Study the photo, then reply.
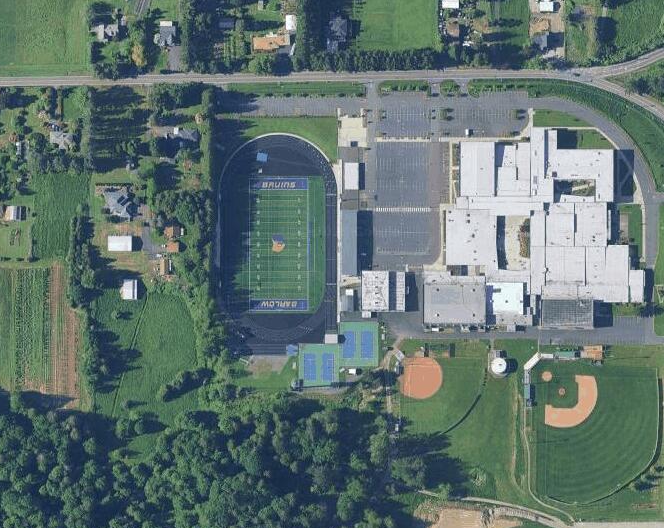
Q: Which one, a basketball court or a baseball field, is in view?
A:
baseball field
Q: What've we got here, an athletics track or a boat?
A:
athletics track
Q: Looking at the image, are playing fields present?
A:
Yes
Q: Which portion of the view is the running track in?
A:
center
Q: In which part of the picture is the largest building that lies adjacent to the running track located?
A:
right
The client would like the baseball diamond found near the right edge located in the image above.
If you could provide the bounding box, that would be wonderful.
[531,360,657,503]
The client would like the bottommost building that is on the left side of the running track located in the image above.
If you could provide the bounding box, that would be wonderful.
[121,279,137,300]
